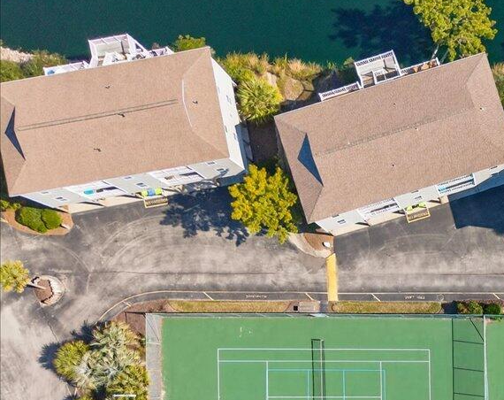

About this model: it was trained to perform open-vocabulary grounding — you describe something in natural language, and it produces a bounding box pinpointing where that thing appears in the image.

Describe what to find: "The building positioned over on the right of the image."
[275,52,504,236]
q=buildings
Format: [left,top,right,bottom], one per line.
[275,52,504,236]
[0,36,258,212]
